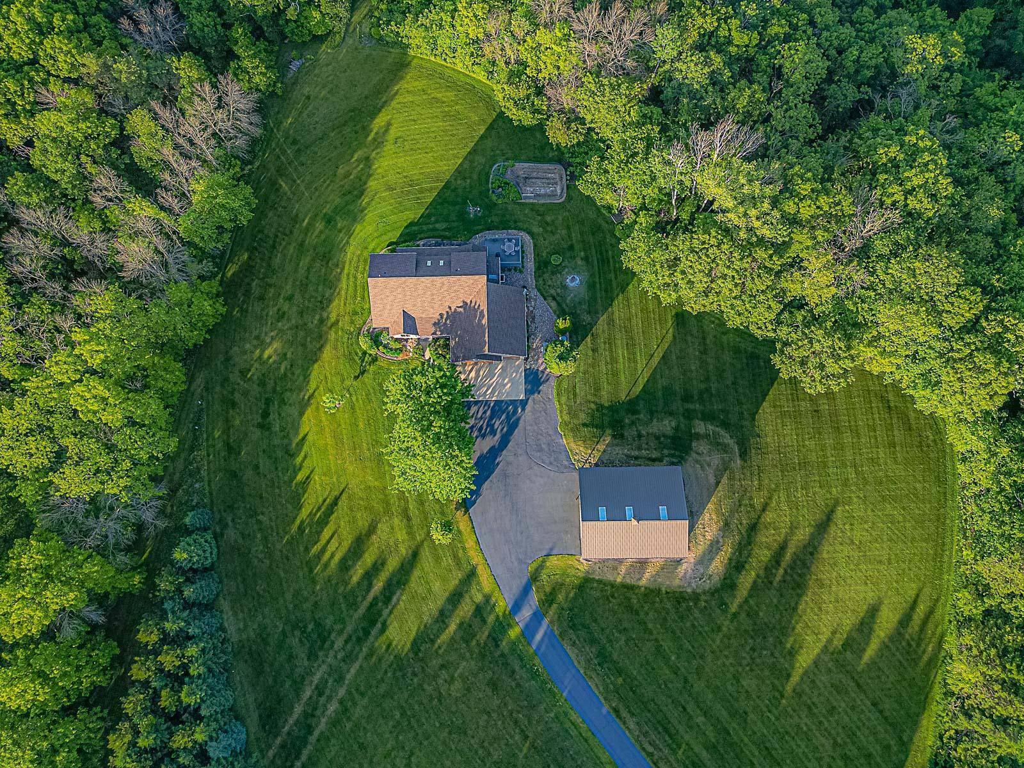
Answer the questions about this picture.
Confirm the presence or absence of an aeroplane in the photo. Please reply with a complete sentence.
No, no aeroplane is visible in the view.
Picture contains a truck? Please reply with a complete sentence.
No, the picture doesn't show any truck.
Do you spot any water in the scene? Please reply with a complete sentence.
No, the picture contains no water.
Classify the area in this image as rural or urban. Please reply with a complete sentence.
The area shown here is rural.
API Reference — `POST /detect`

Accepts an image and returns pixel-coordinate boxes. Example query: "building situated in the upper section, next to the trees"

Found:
[366,240,527,365]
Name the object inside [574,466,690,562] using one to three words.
barn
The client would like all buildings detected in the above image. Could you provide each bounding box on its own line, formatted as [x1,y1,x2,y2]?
[366,240,527,365]
[574,466,690,562]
